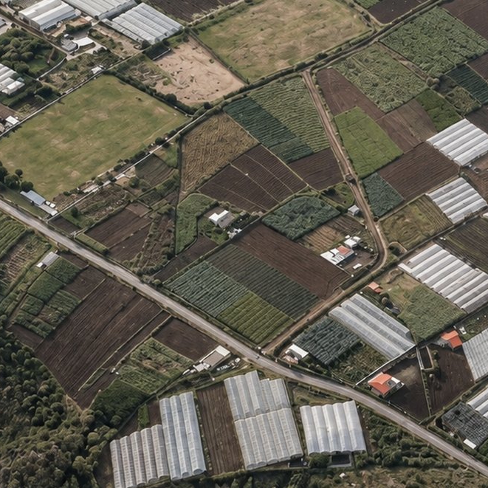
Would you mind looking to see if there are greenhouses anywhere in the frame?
Yes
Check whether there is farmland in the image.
Yes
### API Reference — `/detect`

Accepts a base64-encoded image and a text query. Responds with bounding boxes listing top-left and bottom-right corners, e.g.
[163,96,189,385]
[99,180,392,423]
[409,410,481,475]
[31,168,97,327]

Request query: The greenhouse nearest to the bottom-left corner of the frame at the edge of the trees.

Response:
[111,427,168,488]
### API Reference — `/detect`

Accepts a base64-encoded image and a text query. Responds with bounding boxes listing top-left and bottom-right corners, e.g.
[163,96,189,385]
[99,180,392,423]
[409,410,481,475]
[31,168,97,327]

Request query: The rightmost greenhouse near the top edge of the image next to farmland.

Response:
[103,3,183,47]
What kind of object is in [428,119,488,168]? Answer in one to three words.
greenhouse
